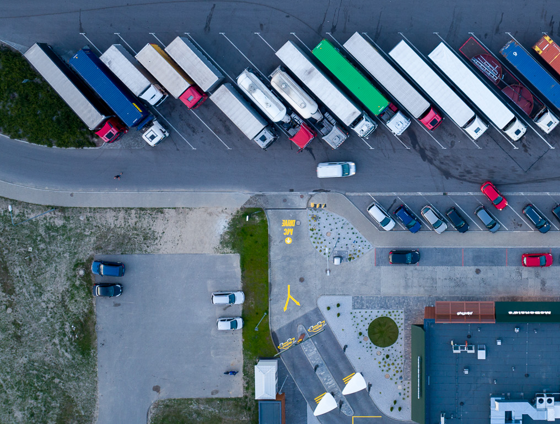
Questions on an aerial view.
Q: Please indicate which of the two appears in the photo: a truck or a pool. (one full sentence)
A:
Visible in the photo is a truck.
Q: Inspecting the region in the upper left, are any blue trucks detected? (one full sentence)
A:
Yes, a blue truck shows up in the upper left.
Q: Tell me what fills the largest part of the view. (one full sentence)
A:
The scene is dominated by paved ground.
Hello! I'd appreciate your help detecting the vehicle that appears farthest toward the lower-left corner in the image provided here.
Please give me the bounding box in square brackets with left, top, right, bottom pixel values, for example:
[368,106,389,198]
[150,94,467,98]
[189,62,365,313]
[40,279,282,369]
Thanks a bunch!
[93,281,123,298]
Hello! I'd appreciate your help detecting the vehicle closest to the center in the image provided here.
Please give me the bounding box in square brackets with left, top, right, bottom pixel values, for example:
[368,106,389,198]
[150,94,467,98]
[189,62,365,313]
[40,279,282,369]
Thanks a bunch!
[316,162,356,178]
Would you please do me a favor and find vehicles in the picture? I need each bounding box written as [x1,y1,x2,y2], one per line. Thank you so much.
[551,204,560,222]
[521,252,553,269]
[482,180,507,210]
[91,260,126,278]
[99,44,172,109]
[497,39,560,112]
[23,42,129,144]
[217,315,245,333]
[389,249,420,267]
[529,33,560,76]
[394,204,422,235]
[276,40,378,140]
[523,203,551,235]
[236,67,317,148]
[220,372,238,378]
[445,206,470,233]
[212,290,246,306]
[343,31,444,131]
[269,65,349,149]
[68,47,173,149]
[312,37,412,135]
[421,205,449,235]
[366,200,396,231]
[474,205,502,232]
[134,43,211,111]
[316,162,356,178]
[428,42,528,142]
[93,281,123,298]
[389,40,489,140]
